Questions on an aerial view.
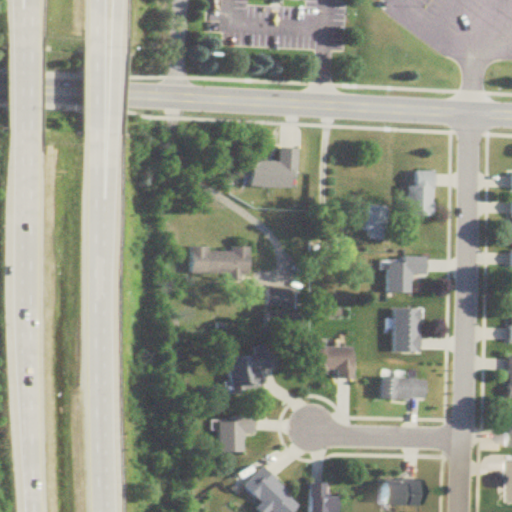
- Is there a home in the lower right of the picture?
Yes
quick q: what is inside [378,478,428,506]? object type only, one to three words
house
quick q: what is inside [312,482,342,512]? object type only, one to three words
house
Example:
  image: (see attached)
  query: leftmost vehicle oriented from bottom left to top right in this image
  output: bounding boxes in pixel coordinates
[239,464,256,478]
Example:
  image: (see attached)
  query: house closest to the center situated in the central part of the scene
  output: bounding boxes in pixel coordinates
[191,246,252,281]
